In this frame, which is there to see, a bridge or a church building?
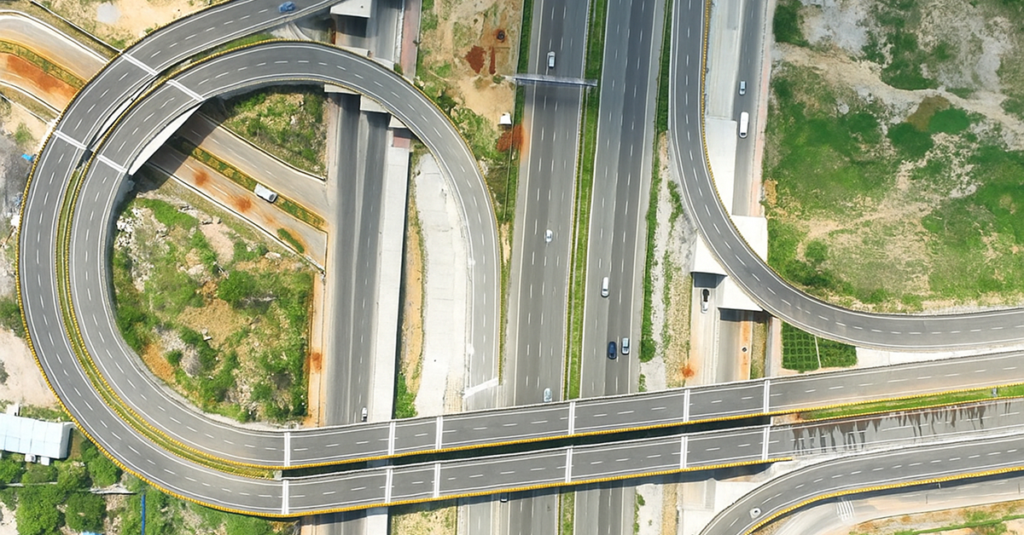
bridge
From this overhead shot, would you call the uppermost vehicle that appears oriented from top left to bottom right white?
Yes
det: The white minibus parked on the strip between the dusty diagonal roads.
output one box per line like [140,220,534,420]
[252,183,279,204]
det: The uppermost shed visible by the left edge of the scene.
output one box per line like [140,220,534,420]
[0,411,76,459]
